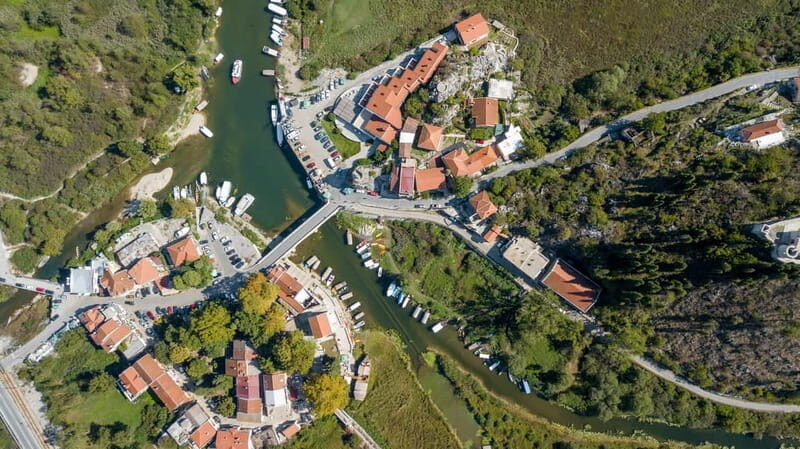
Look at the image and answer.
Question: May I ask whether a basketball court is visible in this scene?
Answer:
No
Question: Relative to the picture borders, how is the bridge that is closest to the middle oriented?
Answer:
diagonally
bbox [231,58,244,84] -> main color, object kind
white boat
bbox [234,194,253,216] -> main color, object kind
white boat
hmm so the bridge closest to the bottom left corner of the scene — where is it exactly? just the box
[9,275,64,299]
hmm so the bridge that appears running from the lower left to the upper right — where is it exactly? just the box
[257,200,337,269]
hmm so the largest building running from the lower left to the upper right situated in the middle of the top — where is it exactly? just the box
[359,41,448,130]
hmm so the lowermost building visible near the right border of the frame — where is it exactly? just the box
[758,216,800,262]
